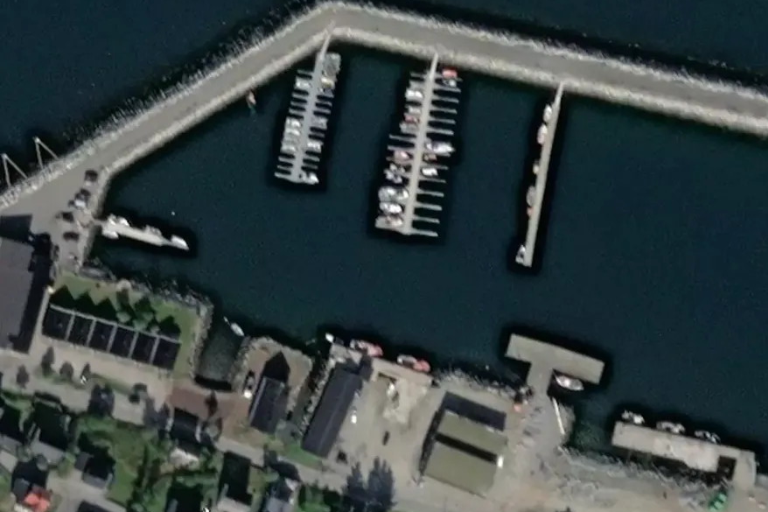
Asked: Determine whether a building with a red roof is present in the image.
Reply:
Yes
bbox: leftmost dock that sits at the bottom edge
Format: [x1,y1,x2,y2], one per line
[612,422,756,488]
